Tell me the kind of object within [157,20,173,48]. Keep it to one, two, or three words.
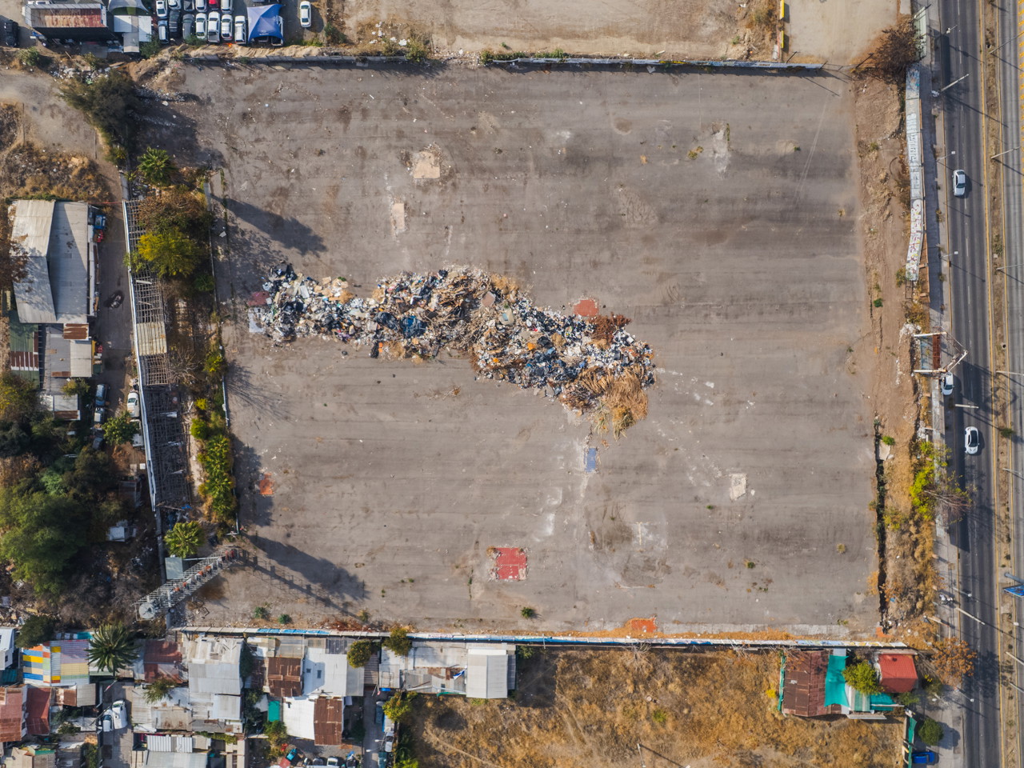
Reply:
car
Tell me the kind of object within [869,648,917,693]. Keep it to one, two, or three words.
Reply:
house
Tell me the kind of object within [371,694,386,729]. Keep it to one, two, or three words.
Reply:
vehicle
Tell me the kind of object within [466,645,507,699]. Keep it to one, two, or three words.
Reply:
building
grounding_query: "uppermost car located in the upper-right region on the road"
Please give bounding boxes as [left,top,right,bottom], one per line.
[949,168,966,199]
